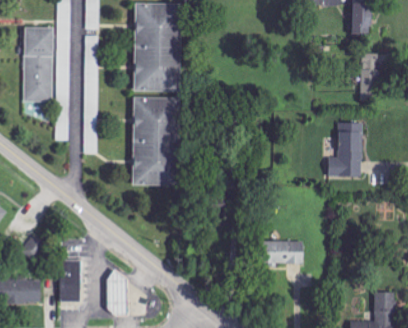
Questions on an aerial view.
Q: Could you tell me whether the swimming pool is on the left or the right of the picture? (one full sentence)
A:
It is on the left.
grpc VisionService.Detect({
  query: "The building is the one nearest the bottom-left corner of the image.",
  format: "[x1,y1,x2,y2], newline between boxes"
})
[0,279,42,306]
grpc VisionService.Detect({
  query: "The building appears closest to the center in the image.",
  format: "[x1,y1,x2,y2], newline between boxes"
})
[133,96,180,186]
